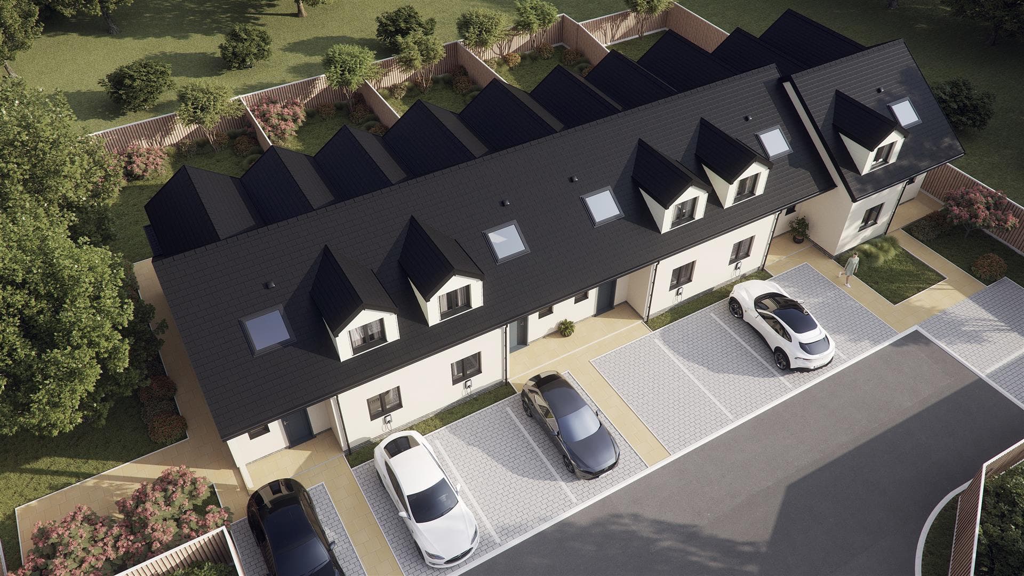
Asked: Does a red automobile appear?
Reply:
No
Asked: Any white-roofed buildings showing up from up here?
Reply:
No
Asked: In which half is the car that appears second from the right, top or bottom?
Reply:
bottom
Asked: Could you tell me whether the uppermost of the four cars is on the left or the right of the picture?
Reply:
right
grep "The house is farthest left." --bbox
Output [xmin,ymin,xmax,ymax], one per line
[141,145,430,495]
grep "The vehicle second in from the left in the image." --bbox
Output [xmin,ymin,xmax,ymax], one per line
[372,429,478,568]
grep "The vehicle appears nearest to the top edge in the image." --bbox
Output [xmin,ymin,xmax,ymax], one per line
[730,280,834,367]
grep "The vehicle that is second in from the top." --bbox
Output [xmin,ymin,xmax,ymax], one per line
[521,369,622,480]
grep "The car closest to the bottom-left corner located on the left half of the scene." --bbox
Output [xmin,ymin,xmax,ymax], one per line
[251,483,346,576]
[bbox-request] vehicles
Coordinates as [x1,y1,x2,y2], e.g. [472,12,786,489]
[521,369,622,480]
[251,483,346,576]
[730,280,834,367]
[372,429,478,568]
